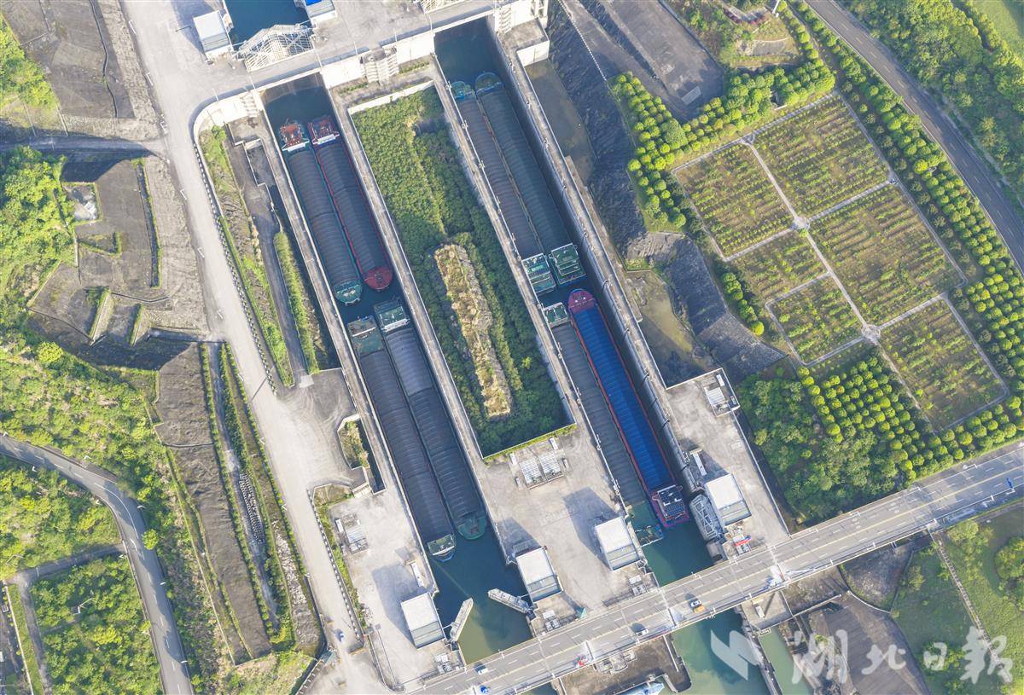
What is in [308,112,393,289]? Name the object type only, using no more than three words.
ship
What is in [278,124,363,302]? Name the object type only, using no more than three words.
ship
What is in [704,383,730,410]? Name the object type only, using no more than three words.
building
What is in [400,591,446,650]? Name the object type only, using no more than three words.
building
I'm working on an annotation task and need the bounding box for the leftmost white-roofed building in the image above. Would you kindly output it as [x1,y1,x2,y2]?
[188,0,231,51]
